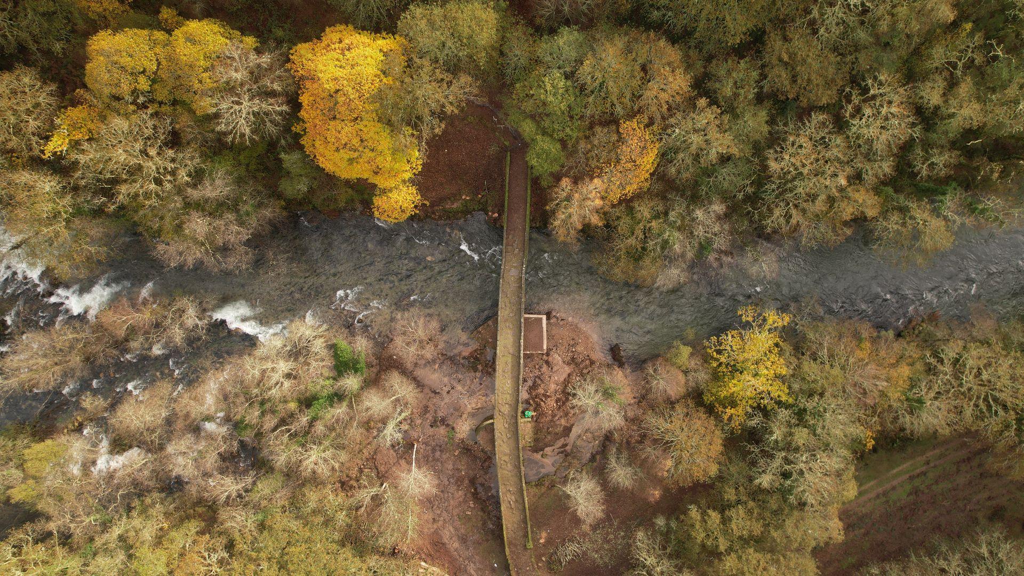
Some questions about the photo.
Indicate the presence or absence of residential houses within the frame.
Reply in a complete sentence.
No, the photo shows no residential house.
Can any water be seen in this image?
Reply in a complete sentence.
Yes, the picture does contain water.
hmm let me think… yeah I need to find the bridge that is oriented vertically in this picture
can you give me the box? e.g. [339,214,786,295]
[494,151,535,576]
